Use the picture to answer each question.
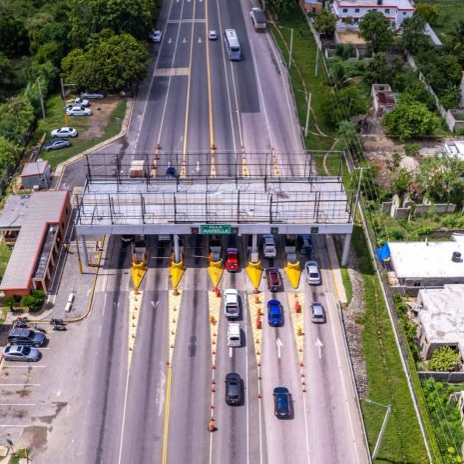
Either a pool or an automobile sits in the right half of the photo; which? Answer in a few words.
automobile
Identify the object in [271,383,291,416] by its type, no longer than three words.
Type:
car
